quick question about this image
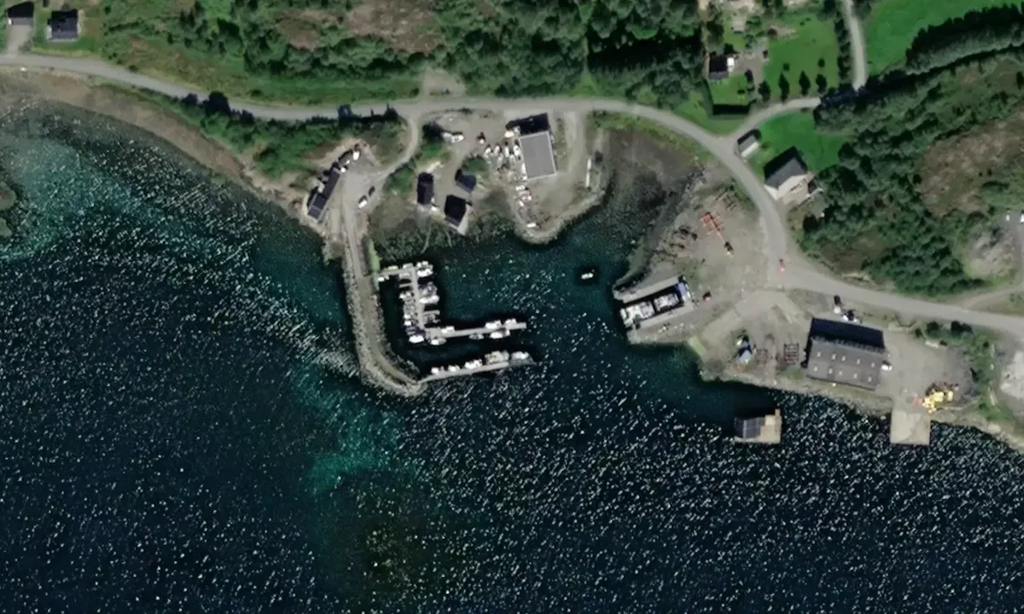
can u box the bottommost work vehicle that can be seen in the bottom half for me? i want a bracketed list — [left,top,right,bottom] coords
[923,390,946,406]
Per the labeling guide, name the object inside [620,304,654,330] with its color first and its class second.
white boat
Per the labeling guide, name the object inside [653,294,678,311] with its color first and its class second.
white boat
